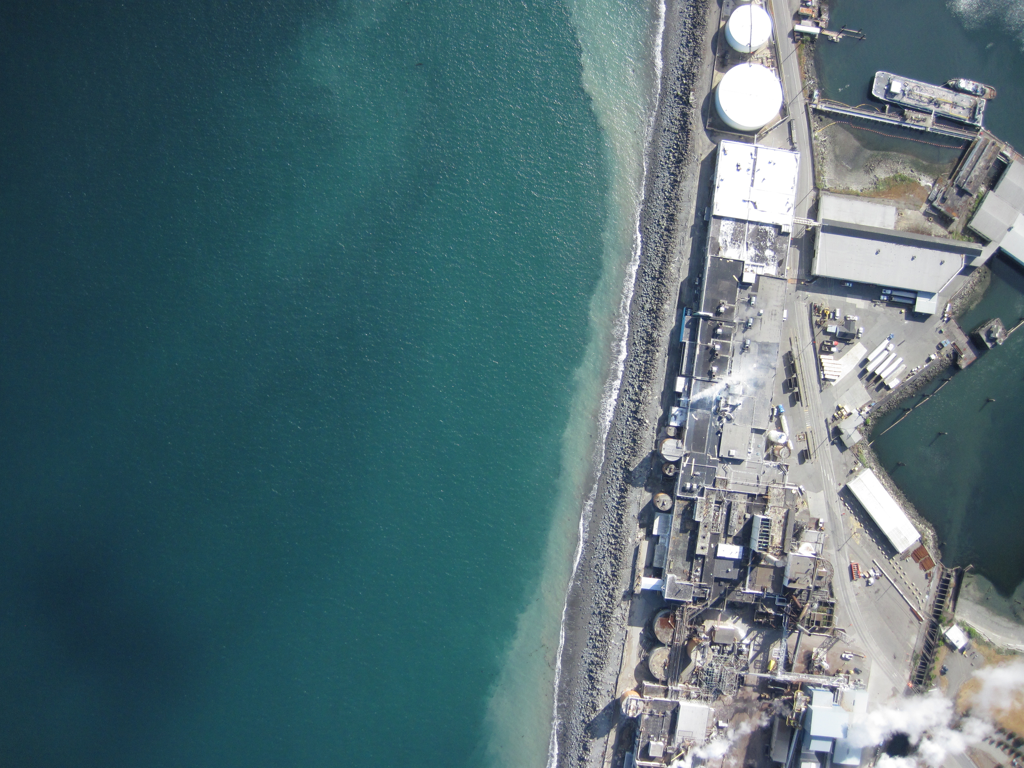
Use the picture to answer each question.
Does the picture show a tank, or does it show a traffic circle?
tank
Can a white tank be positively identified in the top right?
Yes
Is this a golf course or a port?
port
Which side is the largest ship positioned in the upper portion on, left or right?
right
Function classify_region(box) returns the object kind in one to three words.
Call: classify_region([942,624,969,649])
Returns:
house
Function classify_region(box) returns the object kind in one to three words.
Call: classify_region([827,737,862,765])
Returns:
building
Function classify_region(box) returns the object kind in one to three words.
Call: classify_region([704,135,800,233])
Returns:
building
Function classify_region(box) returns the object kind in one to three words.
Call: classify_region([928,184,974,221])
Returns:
shed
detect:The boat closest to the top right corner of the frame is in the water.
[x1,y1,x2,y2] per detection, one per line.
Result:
[946,78,997,99]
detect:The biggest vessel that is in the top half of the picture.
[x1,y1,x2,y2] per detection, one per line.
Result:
[870,71,986,127]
